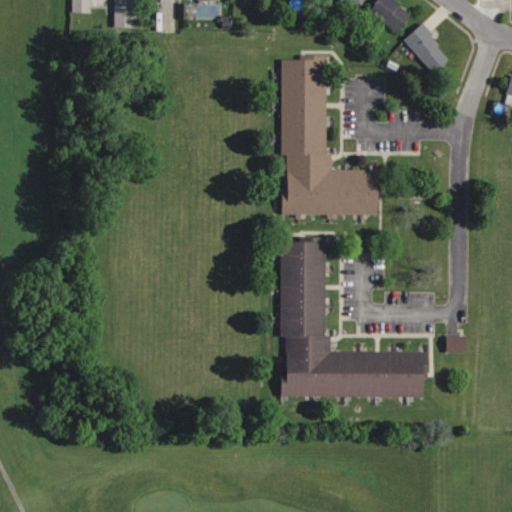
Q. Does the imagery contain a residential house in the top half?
Yes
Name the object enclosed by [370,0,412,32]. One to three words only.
house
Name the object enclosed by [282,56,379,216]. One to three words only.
building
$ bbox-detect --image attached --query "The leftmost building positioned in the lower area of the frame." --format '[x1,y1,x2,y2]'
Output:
[280,236,430,398]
